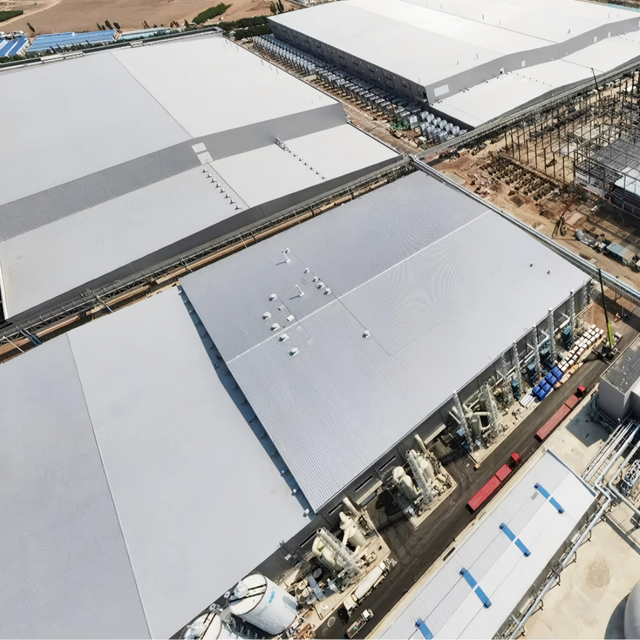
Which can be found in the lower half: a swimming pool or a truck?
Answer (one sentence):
Looking in the lower half, you will find a truck.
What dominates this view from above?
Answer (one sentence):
What you mostly see from above here is buildings.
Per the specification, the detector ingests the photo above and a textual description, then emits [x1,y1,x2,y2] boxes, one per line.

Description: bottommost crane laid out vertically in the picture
[598,267,628,358]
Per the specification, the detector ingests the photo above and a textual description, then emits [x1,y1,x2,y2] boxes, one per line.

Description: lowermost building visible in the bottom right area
[377,449,597,640]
